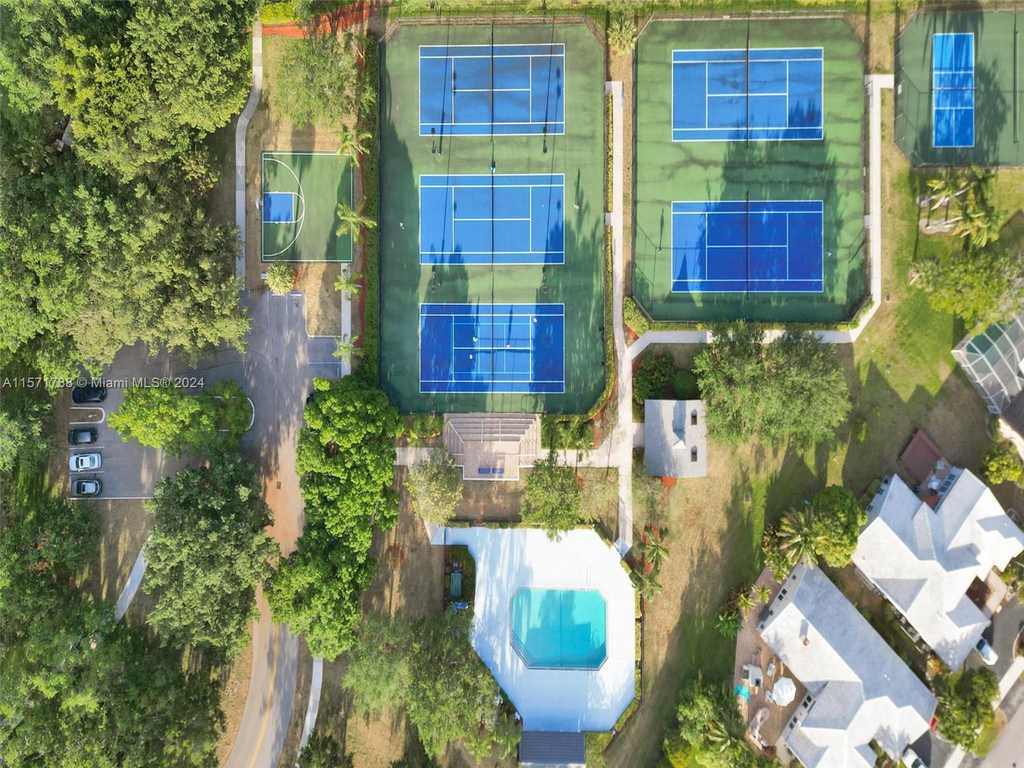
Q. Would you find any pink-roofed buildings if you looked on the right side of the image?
No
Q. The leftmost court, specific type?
basketball court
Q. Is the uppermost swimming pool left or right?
right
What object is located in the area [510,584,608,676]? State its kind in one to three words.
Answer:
swimming pool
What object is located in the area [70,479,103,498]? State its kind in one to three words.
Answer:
car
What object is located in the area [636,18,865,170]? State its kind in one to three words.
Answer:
tennis court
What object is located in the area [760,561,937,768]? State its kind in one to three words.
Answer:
house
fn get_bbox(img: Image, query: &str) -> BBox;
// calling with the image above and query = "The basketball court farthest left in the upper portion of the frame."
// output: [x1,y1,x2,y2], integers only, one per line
[261,151,353,262]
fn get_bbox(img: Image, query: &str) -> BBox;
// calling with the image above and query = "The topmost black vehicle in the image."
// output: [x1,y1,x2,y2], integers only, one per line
[72,387,107,404]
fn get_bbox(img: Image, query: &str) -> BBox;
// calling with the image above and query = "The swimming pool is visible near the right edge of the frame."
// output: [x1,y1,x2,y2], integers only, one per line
[965,313,1018,357]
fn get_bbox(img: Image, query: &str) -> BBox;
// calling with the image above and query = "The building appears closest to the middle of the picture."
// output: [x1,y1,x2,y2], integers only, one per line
[645,400,706,477]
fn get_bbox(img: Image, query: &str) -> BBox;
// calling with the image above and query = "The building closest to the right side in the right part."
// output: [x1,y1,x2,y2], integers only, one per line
[992,387,1024,456]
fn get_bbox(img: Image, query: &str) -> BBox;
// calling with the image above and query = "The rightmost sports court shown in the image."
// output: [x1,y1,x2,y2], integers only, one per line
[895,11,1024,166]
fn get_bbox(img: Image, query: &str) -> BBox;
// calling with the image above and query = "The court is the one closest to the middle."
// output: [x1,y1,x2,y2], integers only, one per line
[379,284,605,413]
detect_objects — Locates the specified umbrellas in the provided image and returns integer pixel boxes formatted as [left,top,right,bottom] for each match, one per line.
[772,679,795,702]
